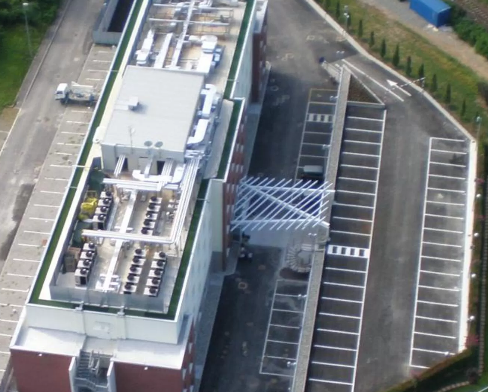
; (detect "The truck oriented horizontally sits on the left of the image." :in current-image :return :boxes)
[57,83,100,105]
